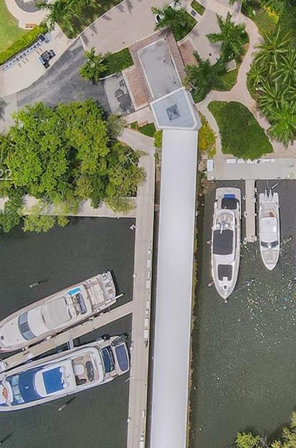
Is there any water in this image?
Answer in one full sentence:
Yes, the picture does contain water.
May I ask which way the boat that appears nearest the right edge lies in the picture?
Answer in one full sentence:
The boat that appears nearest the right edge runs vertically in the image.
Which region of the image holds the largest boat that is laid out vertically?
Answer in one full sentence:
The largest boat that is laid out vertically is in the right part of the image.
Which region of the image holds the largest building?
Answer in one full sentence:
Look in the top portion of the view to spot the largest building.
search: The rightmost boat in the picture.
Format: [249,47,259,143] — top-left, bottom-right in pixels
[260,192,279,270]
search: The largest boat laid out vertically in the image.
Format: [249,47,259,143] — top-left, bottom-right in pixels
[213,188,244,302]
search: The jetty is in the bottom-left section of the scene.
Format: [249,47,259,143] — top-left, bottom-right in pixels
[7,300,134,369]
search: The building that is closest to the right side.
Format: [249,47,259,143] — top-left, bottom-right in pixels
[129,29,189,104]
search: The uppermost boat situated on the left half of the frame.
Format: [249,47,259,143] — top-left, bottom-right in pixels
[0,271,124,351]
